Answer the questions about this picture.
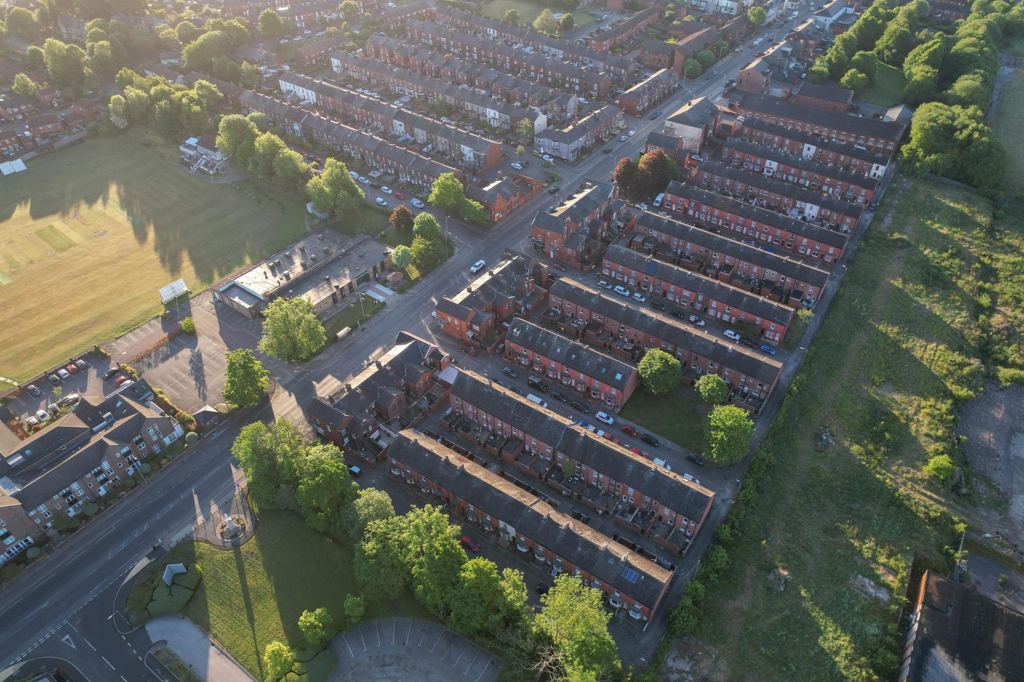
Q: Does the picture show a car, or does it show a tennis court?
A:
car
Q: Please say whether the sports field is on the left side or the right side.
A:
left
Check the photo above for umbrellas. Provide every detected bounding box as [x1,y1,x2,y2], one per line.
[385,270,403,283]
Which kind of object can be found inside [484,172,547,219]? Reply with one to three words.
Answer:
building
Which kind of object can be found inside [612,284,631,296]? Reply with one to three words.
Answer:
vehicle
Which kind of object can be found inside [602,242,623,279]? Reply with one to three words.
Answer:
house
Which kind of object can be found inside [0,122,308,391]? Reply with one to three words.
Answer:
sports field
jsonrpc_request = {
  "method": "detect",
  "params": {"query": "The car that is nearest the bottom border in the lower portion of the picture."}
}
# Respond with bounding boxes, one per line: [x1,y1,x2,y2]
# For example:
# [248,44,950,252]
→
[532,579,548,595]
